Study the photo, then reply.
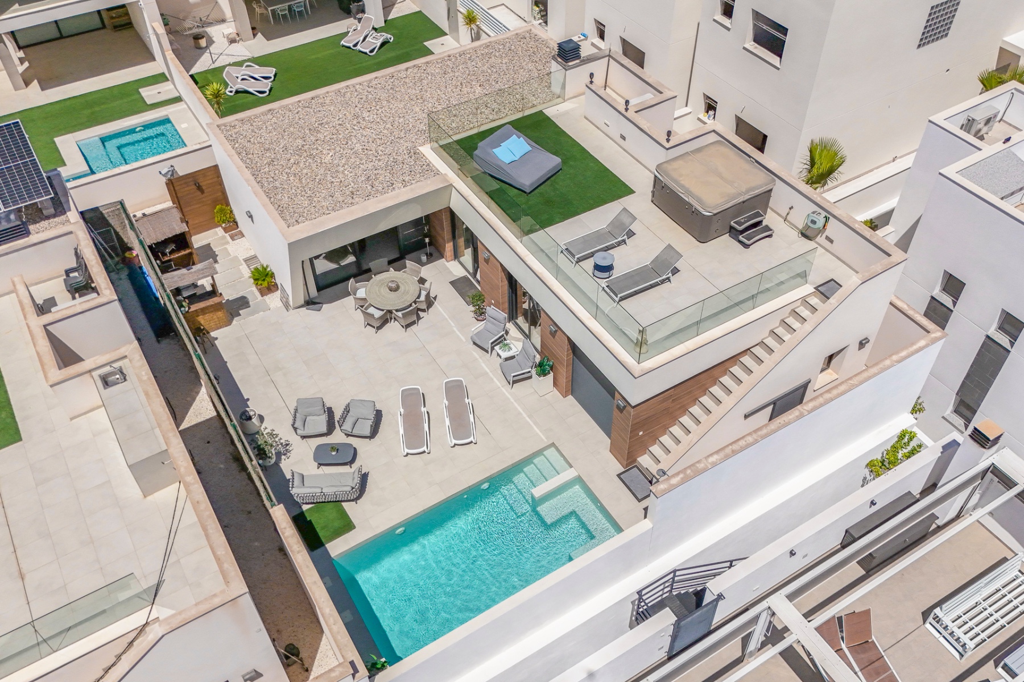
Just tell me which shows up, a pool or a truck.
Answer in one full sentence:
This aerial view contains a pool.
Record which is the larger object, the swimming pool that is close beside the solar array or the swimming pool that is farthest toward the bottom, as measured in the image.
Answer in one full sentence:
The swimming pool that is close beside the solar array is smaller than the swimming pool that is farthest toward the bottom.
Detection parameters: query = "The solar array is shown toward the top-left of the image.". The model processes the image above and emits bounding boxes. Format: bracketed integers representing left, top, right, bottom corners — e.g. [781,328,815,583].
[0,119,56,223]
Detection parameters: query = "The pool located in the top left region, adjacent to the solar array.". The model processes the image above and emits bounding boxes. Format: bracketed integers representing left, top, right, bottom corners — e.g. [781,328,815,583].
[66,118,184,181]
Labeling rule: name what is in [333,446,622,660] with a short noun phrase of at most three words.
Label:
swimming pool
